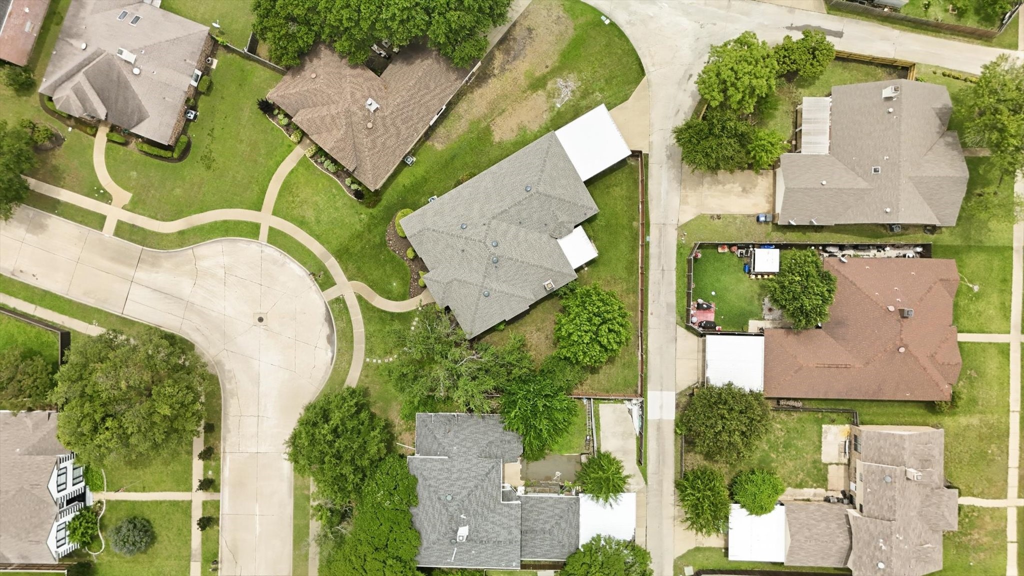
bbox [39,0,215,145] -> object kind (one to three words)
house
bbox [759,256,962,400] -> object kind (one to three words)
house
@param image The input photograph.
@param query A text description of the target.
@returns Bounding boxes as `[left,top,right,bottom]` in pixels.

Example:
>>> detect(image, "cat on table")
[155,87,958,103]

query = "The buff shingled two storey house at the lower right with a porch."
[784,426,958,576]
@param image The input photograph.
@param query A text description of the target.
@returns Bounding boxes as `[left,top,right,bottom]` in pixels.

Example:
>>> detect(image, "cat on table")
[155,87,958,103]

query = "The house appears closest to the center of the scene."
[400,131,599,337]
